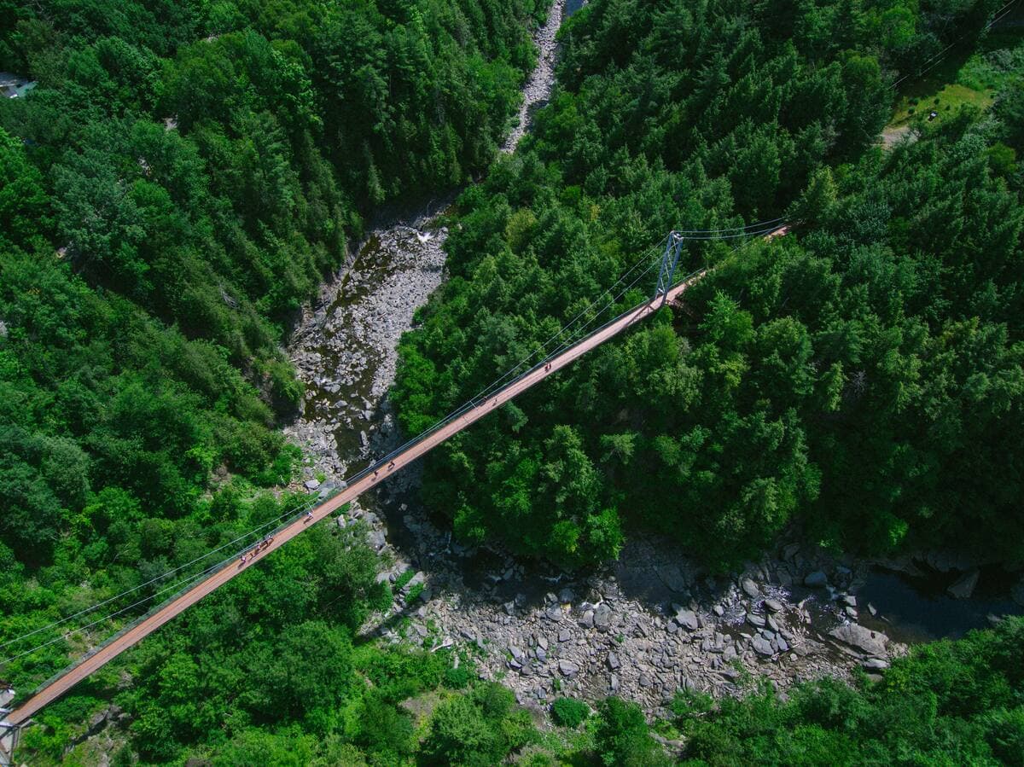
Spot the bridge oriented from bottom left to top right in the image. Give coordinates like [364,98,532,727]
[0,213,799,735]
